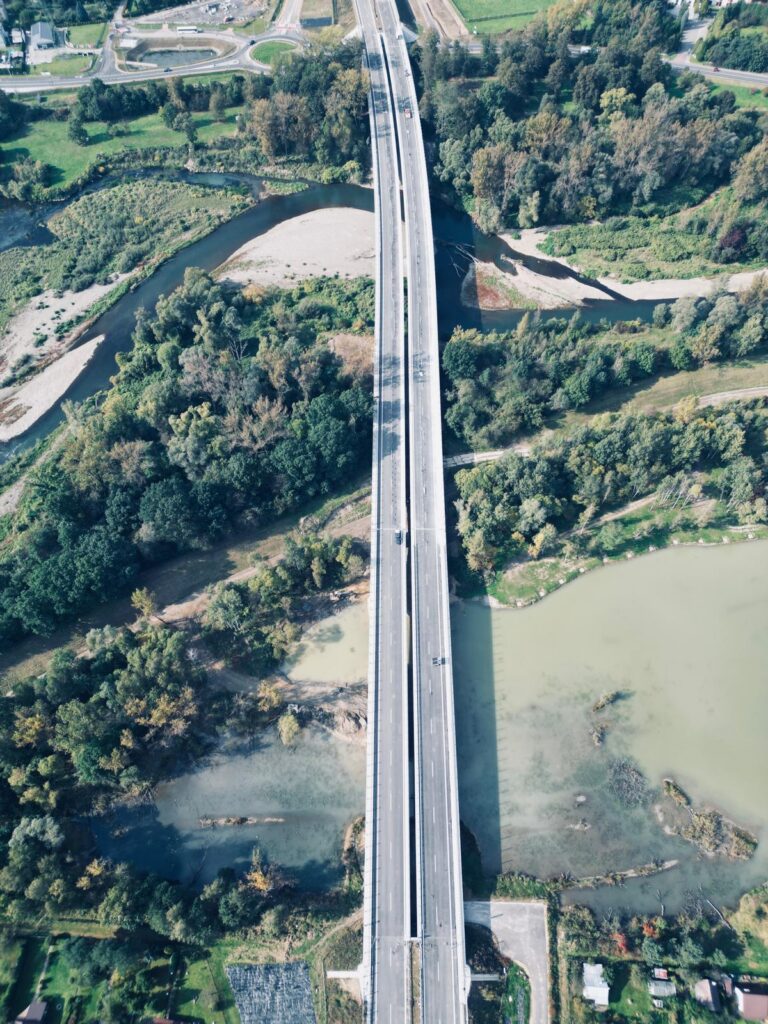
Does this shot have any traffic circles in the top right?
No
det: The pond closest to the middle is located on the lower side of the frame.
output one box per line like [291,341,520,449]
[284,598,369,685]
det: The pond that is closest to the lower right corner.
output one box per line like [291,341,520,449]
[406,535,768,921]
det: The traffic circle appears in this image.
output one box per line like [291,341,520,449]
[234,34,310,76]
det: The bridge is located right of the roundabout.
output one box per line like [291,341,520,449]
[355,0,473,1024]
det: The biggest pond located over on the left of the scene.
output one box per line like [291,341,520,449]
[94,726,367,889]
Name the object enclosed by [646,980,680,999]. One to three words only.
greenhouse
